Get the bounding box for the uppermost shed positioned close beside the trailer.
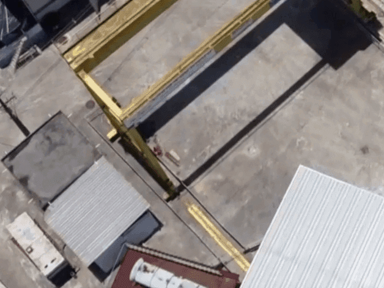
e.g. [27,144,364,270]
[0,109,108,211]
